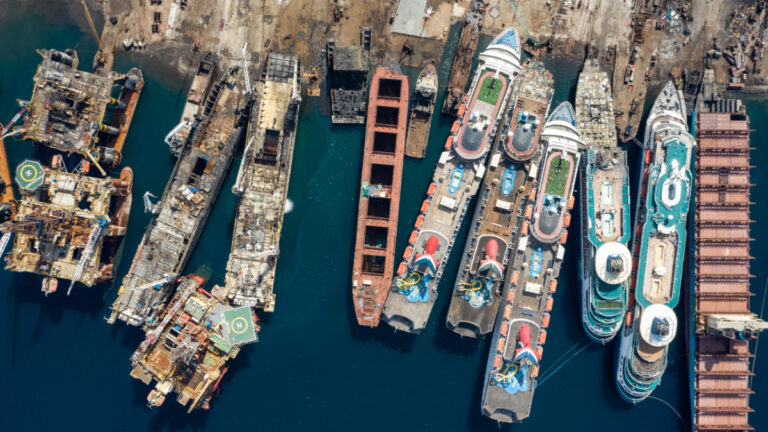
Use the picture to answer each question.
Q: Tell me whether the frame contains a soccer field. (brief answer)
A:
No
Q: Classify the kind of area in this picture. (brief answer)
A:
port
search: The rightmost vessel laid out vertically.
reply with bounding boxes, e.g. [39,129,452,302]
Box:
[683,66,768,432]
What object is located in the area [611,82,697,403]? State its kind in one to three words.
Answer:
ship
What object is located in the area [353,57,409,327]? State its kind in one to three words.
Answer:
ship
